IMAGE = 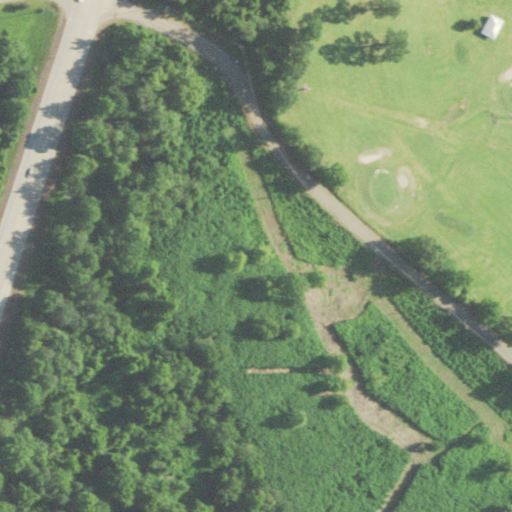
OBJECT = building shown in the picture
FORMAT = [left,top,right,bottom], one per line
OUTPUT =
[482,14,505,39]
